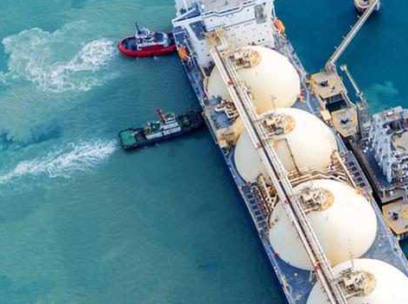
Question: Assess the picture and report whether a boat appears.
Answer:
Yes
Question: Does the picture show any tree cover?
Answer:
No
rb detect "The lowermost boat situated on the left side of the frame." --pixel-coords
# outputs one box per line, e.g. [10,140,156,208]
[115,104,199,154]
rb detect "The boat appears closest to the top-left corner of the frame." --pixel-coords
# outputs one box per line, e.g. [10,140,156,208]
[111,21,175,58]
